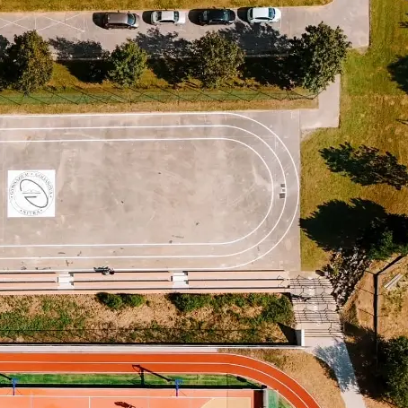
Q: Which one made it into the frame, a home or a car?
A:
car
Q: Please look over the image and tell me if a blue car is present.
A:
No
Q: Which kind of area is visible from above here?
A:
sports ground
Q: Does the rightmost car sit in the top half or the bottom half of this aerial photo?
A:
top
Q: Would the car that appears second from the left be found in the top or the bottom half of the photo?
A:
top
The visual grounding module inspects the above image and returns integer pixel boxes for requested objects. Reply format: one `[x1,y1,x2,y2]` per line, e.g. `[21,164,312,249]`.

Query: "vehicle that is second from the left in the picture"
[149,5,184,26]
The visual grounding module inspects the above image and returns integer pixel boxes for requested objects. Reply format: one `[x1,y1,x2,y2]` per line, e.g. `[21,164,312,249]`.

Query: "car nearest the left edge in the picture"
[103,8,138,29]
